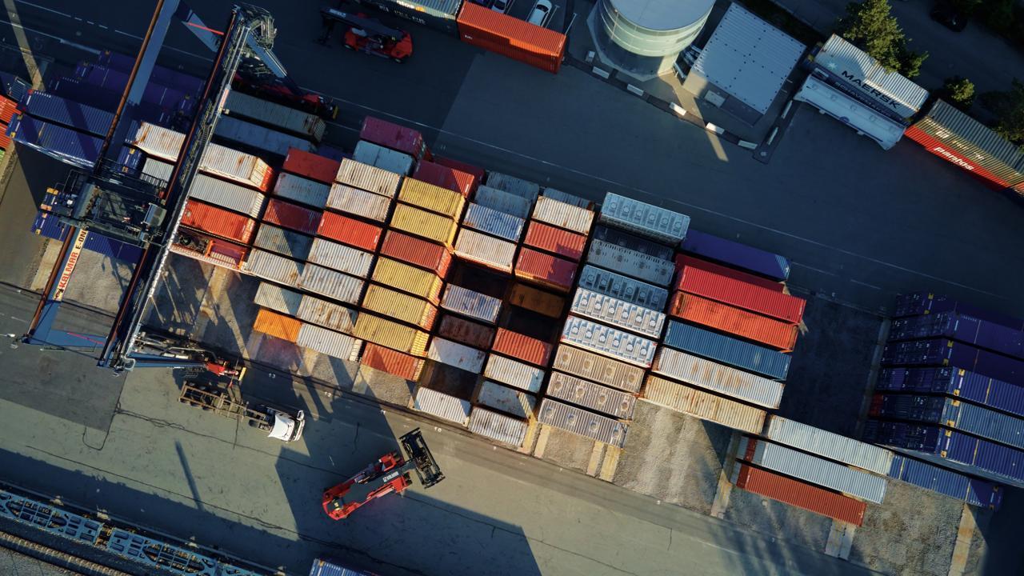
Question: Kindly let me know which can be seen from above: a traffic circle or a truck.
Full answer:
Visible in the photo is a truck.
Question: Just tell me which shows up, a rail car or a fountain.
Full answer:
There is a rail car in the scene.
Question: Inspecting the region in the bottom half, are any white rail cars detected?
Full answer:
No, the scene shows no white rail car in the bottom half.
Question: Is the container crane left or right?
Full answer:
The container crane sits on the left side.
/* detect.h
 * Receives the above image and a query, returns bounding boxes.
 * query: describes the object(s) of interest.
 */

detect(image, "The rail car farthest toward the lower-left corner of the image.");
[0,489,106,547]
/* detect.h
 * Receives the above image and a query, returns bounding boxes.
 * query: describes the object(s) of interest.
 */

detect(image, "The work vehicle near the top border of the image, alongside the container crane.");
[300,0,419,68]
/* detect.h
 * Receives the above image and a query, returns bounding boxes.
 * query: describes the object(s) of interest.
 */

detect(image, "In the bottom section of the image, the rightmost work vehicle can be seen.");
[325,428,446,523]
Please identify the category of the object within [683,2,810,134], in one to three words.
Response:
shed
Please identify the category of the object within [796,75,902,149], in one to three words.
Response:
trailer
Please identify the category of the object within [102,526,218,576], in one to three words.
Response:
rail car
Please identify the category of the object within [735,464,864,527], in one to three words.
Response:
shipping container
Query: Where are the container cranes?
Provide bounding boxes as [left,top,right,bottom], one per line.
[4,0,334,389]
